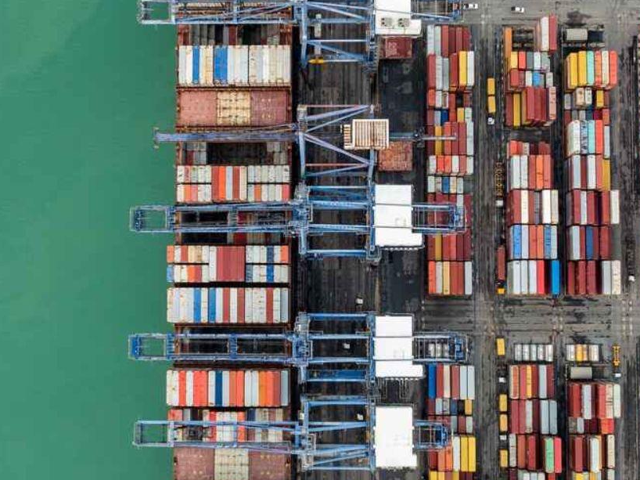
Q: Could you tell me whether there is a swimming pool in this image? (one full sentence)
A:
No, I can't see a single swimming pool in this photo.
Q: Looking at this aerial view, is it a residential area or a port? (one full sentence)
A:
This image shows a port.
